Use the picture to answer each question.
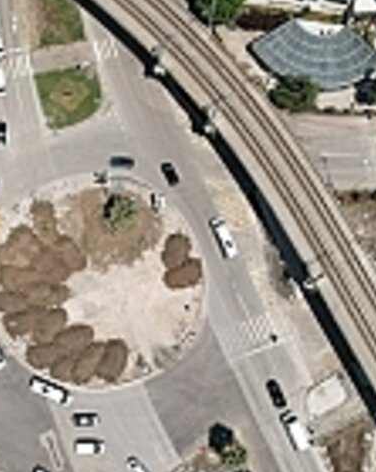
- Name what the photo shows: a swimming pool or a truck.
truck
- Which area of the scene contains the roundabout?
left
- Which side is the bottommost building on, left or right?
right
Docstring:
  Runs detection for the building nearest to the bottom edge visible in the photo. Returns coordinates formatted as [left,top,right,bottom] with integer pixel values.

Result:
[242,17,376,93]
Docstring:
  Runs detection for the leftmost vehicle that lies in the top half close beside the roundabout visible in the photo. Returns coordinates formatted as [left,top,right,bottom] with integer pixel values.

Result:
[108,154,135,168]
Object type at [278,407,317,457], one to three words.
truck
